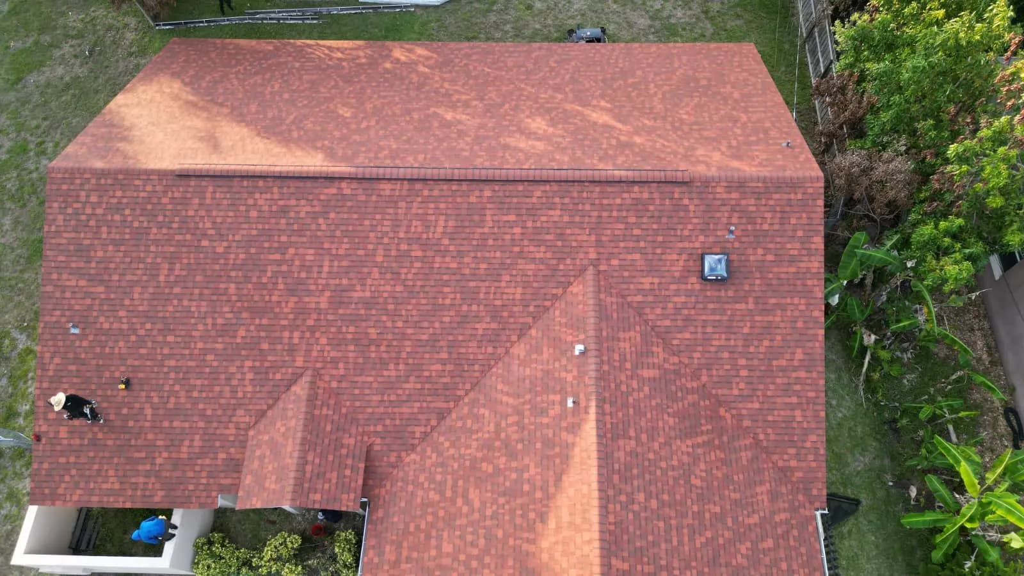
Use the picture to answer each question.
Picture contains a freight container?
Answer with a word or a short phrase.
No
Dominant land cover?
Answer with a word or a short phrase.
buildings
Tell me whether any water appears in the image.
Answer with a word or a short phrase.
No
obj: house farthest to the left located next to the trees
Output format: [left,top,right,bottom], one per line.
[29,39,831,576]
